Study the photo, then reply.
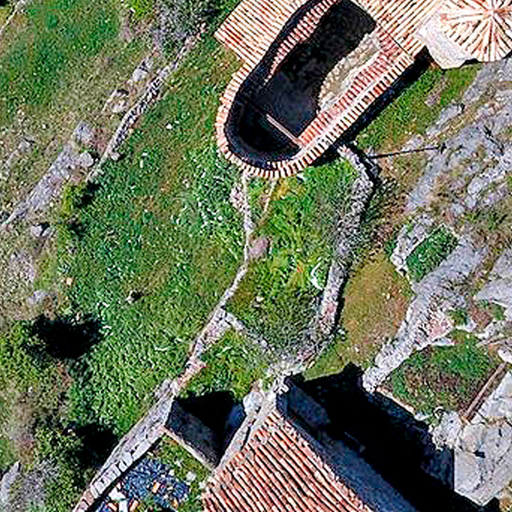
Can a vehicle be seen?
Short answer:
No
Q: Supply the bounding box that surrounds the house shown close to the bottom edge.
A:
[202,365,433,512]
